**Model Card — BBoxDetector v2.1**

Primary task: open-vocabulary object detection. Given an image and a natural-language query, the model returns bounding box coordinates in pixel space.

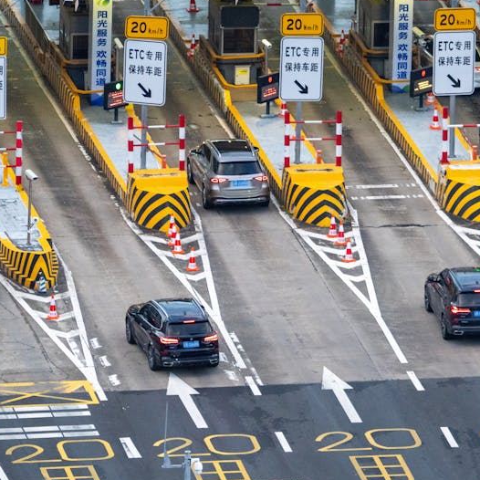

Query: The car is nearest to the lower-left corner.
[125,300,218,370]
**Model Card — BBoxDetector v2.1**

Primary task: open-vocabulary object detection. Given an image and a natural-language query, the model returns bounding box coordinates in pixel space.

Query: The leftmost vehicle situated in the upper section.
[190,143,266,208]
